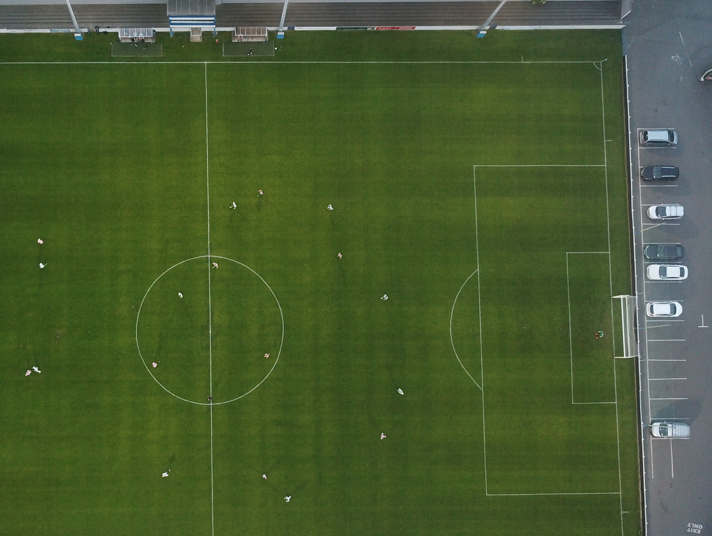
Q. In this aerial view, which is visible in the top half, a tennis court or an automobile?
automobile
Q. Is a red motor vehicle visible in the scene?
No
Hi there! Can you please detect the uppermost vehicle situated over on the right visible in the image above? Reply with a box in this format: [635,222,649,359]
[640,129,676,147]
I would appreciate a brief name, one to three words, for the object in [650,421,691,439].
vehicle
